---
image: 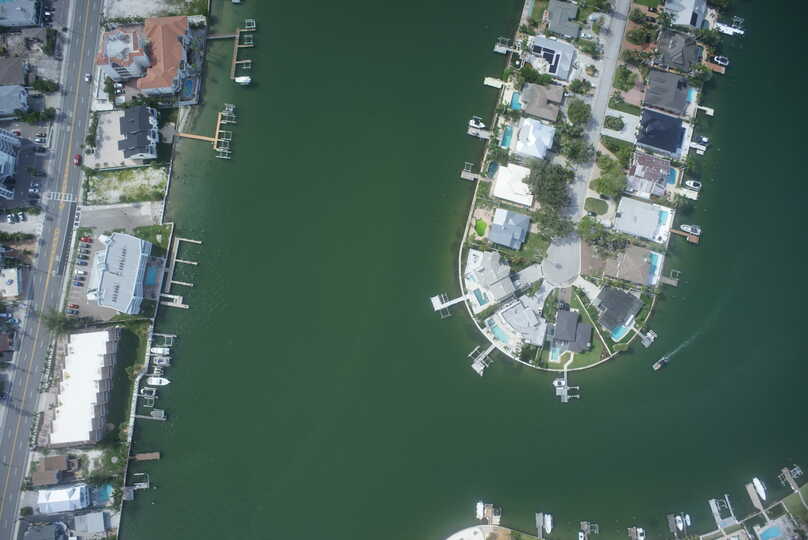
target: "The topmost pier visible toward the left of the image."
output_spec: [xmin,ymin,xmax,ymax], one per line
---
[208,27,257,80]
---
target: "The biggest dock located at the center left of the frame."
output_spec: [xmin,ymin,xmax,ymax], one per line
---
[163,237,203,293]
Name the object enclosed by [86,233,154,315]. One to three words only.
building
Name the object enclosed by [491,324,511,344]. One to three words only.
swimming pool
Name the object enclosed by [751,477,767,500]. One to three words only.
boat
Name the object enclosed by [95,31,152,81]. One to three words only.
house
